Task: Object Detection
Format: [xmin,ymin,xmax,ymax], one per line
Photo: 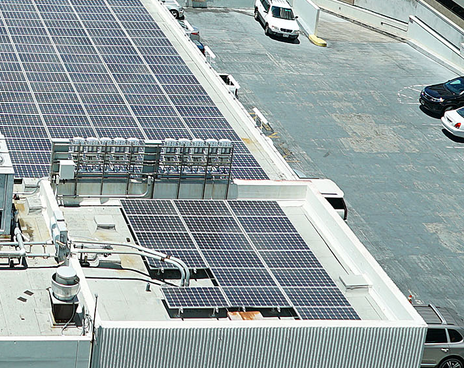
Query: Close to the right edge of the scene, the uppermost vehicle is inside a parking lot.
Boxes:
[412,67,464,110]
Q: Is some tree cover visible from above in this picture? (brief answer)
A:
No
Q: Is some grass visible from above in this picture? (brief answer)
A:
No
